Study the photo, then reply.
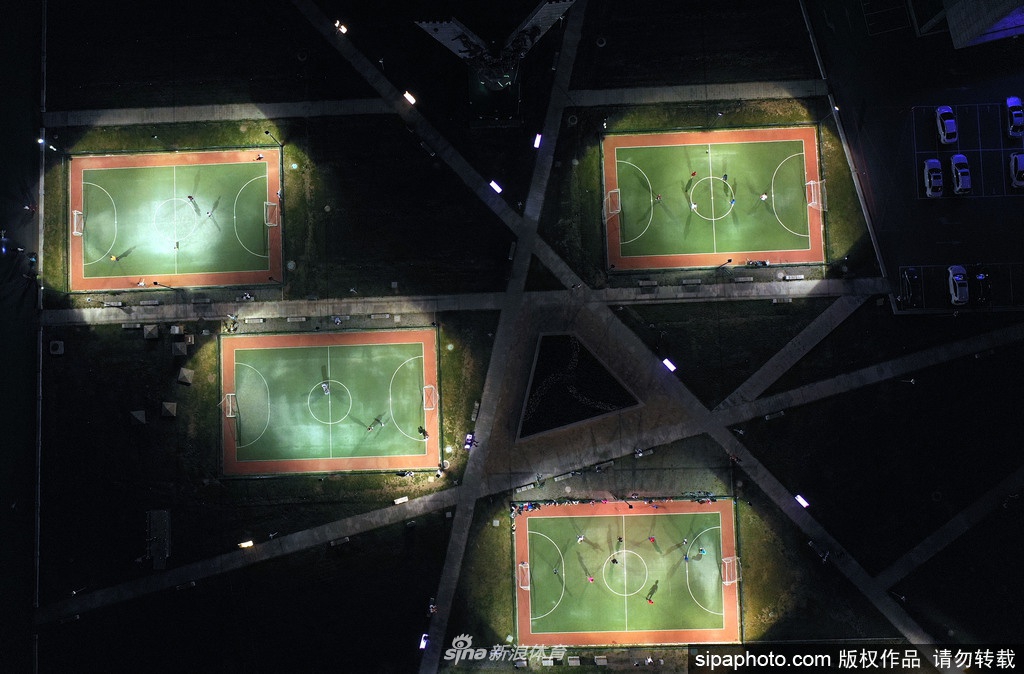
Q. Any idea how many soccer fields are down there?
4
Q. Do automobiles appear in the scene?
Yes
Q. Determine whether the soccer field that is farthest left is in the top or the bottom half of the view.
top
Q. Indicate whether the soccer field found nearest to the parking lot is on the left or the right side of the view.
right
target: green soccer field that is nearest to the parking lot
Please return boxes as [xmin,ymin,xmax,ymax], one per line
[603,127,823,269]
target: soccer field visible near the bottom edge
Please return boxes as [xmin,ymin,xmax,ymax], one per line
[514,499,740,647]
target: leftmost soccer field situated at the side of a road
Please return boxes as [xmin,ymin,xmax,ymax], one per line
[71,150,281,290]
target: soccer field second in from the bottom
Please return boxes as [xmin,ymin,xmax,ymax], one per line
[222,330,439,474]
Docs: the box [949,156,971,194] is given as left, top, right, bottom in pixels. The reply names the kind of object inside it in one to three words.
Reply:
car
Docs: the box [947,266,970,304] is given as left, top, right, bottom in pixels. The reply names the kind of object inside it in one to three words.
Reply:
car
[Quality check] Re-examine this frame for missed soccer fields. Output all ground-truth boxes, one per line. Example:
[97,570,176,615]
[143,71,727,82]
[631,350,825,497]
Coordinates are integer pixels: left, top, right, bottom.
[514,499,740,647]
[222,330,439,474]
[603,127,823,269]
[71,150,281,290]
